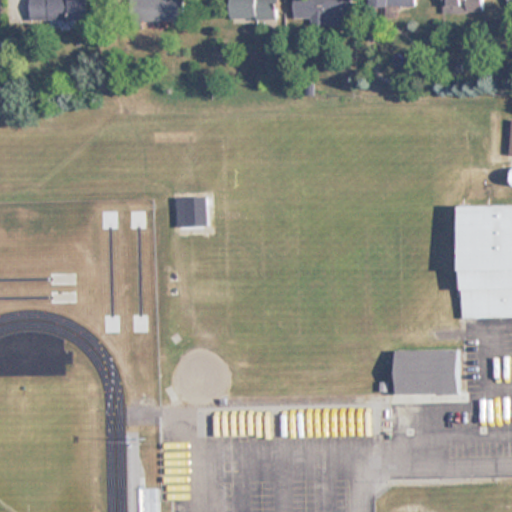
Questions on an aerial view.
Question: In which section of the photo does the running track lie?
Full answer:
The running track is in the bottom left part of the image.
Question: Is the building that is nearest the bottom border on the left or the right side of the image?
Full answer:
The building that is nearest the bottom border is on the right side of the image.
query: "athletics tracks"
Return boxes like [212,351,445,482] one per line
[0,310,127,512]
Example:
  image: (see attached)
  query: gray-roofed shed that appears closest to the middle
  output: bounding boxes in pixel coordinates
[176,198,208,227]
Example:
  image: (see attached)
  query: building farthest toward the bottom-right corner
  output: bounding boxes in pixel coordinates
[392,348,458,394]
